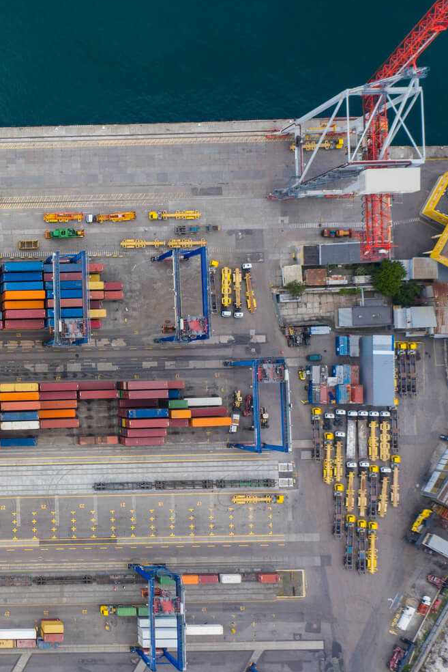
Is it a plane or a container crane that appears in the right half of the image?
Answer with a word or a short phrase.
container crane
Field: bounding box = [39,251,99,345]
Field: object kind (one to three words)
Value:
container crane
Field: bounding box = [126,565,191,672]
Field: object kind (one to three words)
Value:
container crane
